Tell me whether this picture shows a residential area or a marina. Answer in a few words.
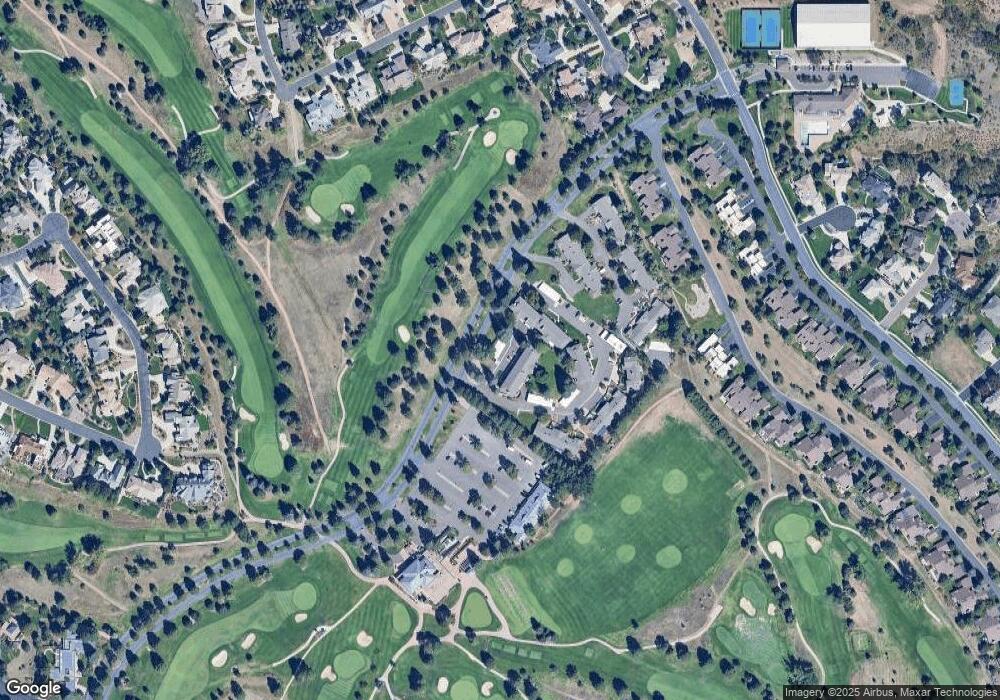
residential area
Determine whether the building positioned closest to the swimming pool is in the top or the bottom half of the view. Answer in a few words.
top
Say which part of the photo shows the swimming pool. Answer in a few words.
top right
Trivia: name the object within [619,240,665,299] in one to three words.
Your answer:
building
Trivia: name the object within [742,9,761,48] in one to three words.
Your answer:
tennis court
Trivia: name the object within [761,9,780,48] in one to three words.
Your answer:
tennis court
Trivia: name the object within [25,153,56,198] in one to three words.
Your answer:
house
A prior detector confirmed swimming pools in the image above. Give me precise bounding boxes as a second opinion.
[800,120,828,147]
